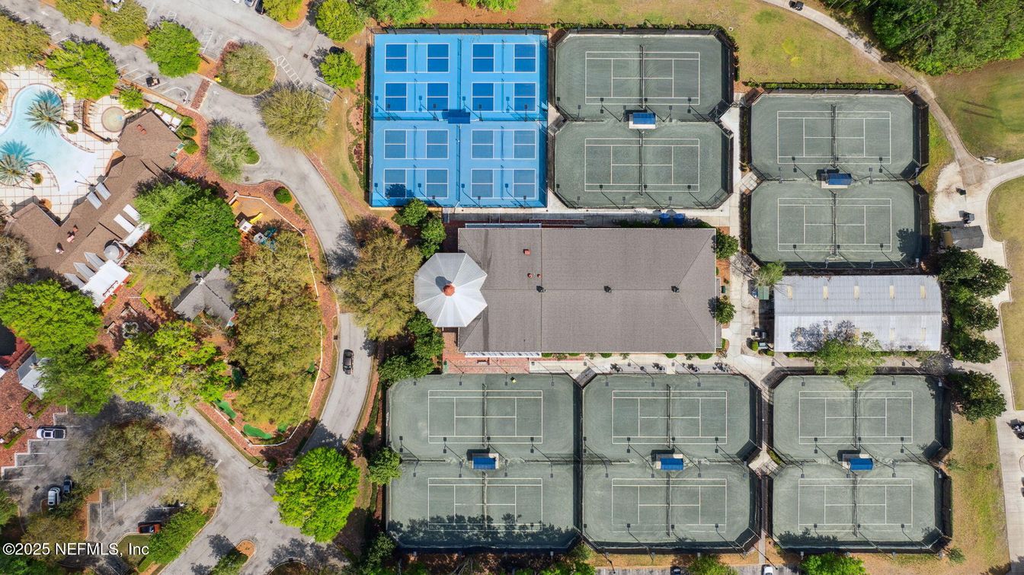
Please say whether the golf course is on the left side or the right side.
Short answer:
right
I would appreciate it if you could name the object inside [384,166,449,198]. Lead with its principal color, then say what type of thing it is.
blue sports court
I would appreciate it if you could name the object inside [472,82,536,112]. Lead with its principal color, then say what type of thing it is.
blue sports court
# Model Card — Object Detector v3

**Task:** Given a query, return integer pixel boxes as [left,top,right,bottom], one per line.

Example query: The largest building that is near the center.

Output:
[414,222,723,358]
